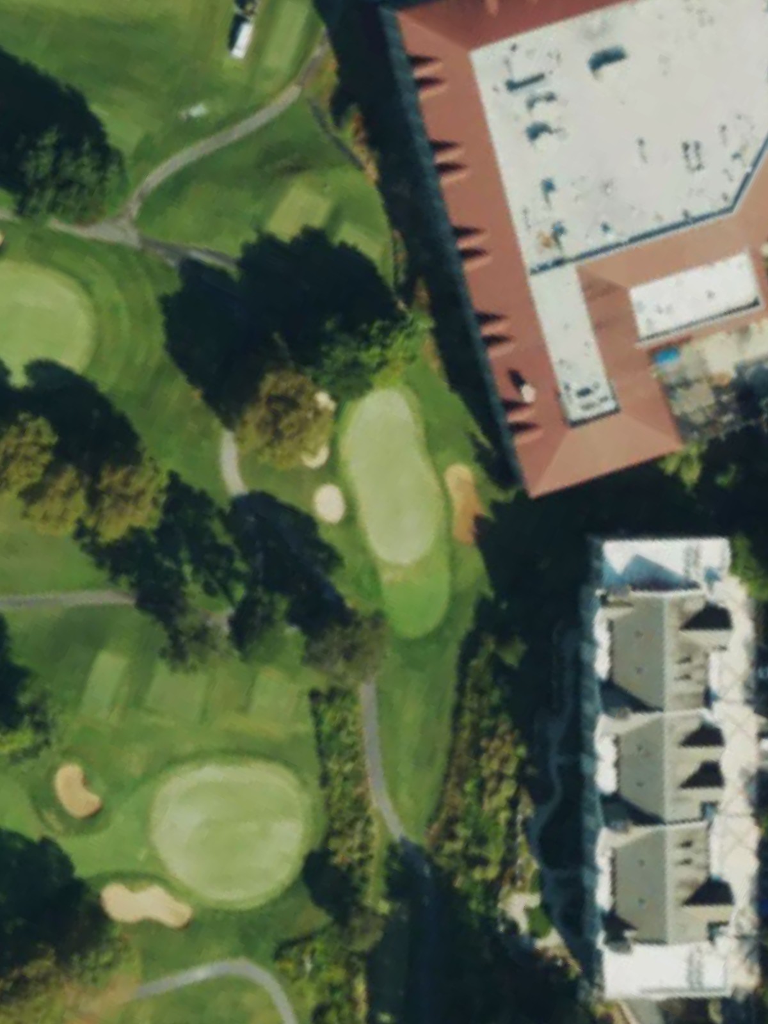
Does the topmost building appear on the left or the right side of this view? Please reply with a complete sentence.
You can find the topmost building on the right side of the picture.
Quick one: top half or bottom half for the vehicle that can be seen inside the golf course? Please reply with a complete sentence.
The top half of the photo is where the vehicle that can be seen inside the golf course is.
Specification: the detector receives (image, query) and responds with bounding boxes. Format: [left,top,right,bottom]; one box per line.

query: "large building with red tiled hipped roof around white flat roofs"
[383,0,768,497]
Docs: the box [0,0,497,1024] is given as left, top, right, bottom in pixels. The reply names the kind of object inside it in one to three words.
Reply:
golf course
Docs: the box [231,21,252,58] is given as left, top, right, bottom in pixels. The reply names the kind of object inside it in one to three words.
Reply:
vehicle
